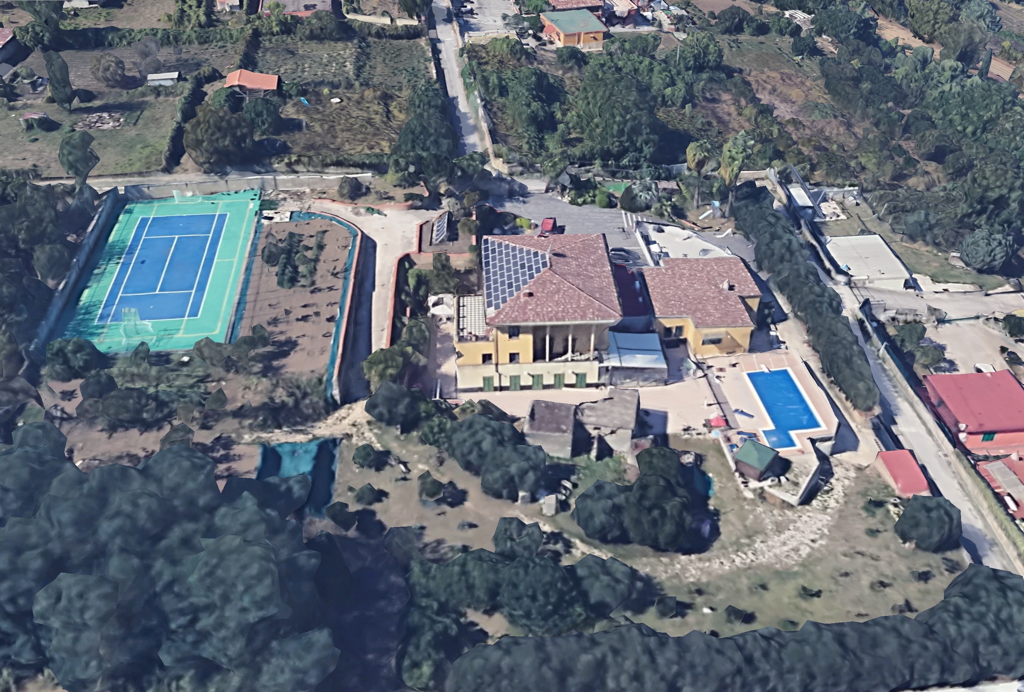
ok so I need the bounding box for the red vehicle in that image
[540,213,557,234]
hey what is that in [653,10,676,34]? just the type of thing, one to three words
shed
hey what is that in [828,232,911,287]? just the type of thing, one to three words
house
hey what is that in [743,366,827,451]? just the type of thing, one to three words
swimming pool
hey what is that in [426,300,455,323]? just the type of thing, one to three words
gazebo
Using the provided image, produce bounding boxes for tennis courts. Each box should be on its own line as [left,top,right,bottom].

[37,189,261,355]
